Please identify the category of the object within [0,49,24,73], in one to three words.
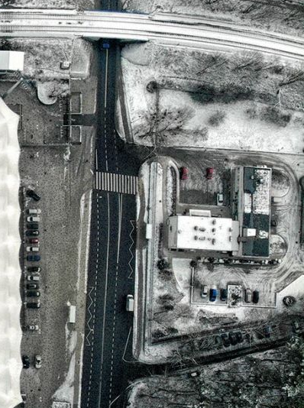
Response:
shed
